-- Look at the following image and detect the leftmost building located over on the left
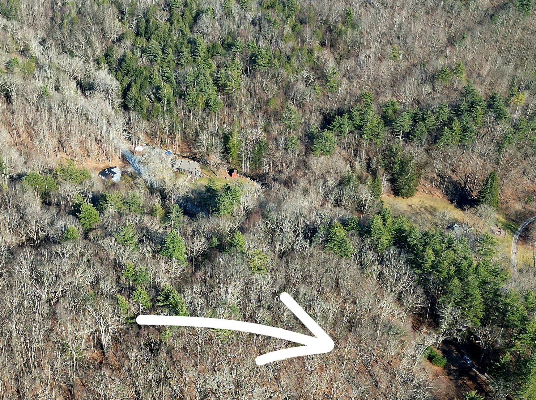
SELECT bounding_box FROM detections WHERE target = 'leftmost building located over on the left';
[97,160,122,183]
